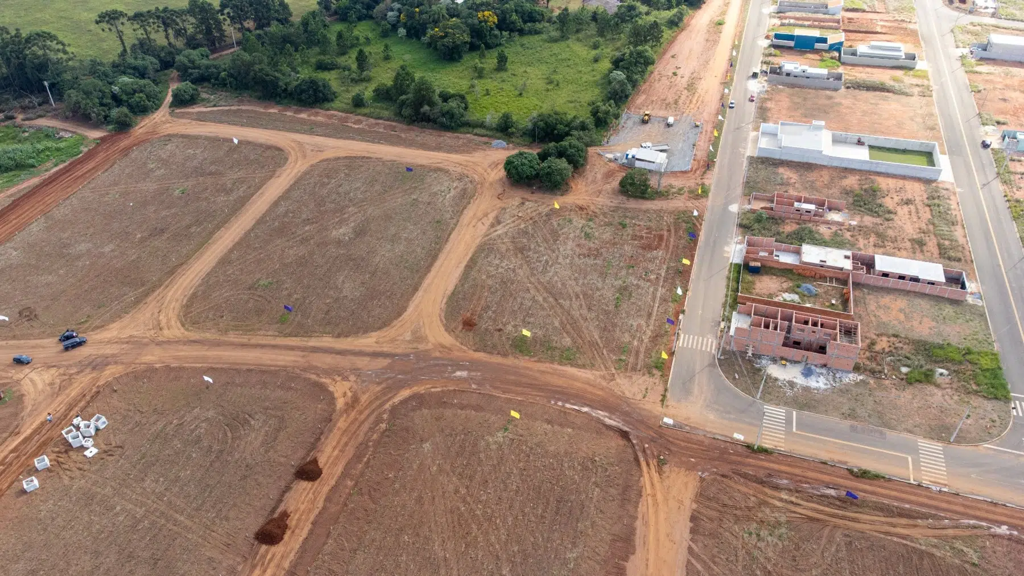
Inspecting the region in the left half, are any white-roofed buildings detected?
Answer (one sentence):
No, I see no white-roofed building in the left half.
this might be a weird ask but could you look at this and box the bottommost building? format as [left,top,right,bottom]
[729,301,861,373]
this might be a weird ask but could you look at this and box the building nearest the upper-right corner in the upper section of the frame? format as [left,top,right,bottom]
[970,33,1024,63]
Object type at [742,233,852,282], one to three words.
house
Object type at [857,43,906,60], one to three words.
house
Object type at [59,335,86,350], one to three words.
car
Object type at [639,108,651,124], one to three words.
vehicle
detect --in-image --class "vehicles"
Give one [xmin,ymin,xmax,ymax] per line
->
[692,118,701,127]
[57,326,79,341]
[750,93,756,100]
[639,108,651,124]
[59,335,86,350]
[729,99,736,107]
[10,354,32,365]
[857,137,871,147]
[641,138,672,152]
[667,109,677,124]
[759,68,771,74]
